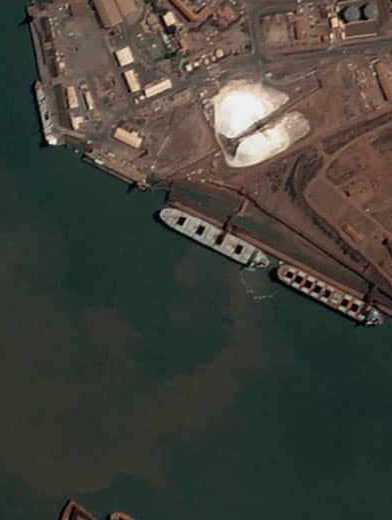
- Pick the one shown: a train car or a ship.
ship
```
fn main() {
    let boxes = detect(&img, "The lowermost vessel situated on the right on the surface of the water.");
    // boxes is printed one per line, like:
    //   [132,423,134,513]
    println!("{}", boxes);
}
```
[278,267,385,327]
